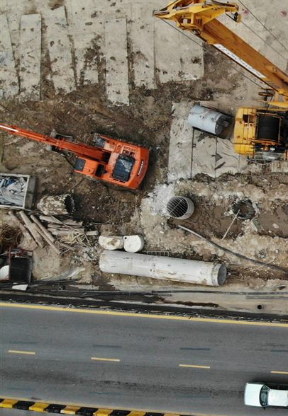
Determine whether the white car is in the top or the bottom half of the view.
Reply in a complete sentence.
The white car is in the bottom half of the image.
